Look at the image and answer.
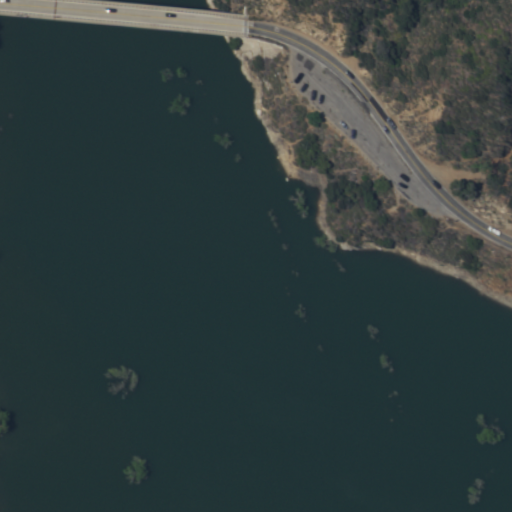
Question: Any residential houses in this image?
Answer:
No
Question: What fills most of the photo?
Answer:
water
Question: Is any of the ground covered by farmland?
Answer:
No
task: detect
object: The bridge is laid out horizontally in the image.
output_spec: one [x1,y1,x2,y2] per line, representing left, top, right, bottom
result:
[0,0,250,38]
